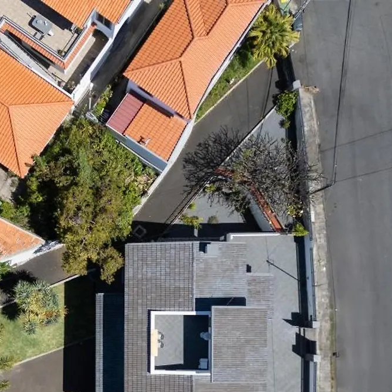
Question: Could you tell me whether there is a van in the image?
No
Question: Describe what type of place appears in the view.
residential area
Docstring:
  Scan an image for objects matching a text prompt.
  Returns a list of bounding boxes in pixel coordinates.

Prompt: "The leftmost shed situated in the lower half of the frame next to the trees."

[0,219,53,268]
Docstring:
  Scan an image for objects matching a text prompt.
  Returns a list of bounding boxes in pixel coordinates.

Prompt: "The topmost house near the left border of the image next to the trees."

[0,0,137,111]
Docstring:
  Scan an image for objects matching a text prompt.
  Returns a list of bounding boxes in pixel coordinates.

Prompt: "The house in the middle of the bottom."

[96,242,272,392]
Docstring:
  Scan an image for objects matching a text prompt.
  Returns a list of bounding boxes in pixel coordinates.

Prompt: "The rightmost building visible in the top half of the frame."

[104,0,270,215]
